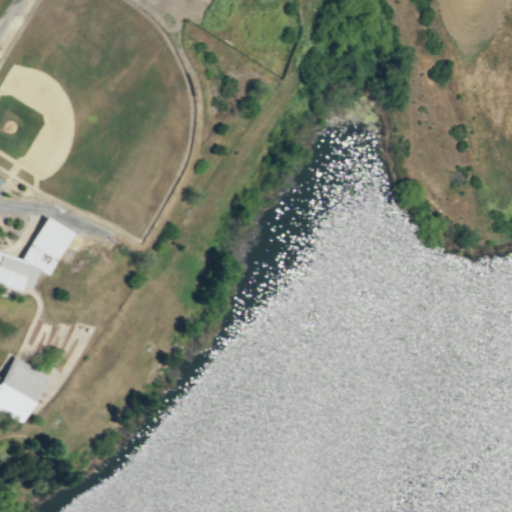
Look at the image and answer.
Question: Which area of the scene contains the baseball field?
top left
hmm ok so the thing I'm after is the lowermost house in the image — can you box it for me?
[0,356,50,424]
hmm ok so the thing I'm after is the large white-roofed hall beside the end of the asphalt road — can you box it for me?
[32,217,76,261]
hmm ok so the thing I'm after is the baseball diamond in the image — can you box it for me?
[0,0,194,242]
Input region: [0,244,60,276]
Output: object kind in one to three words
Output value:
building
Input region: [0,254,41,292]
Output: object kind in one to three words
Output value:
building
